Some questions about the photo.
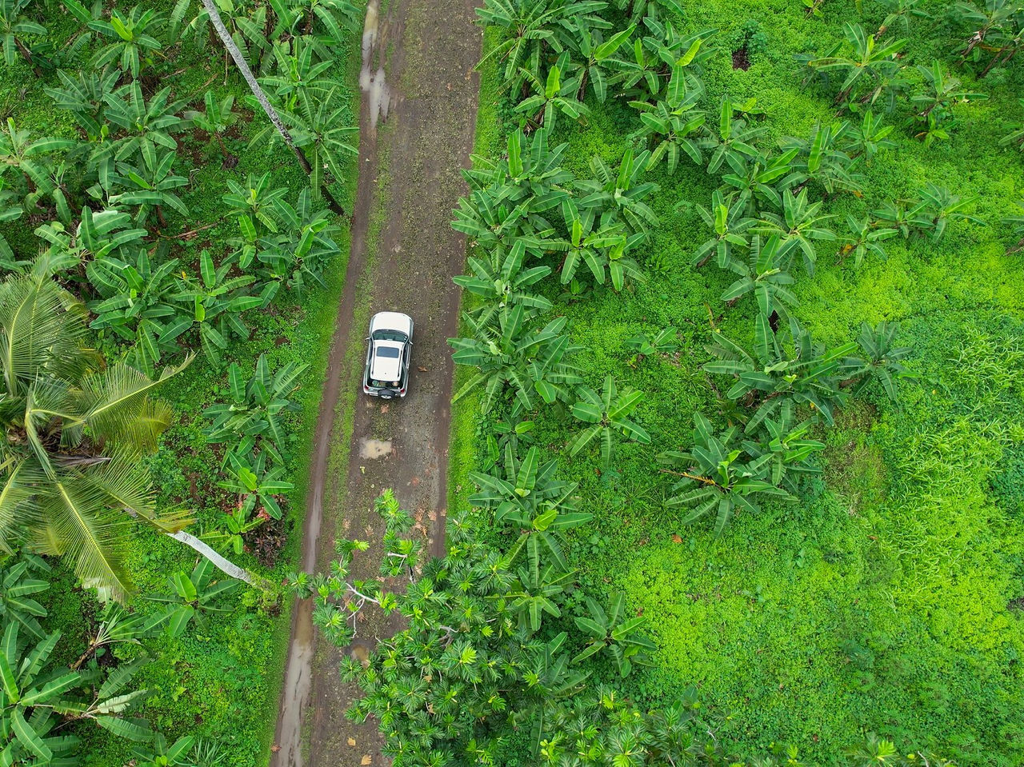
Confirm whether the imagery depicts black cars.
No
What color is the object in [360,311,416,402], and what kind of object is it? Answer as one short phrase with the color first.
white car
